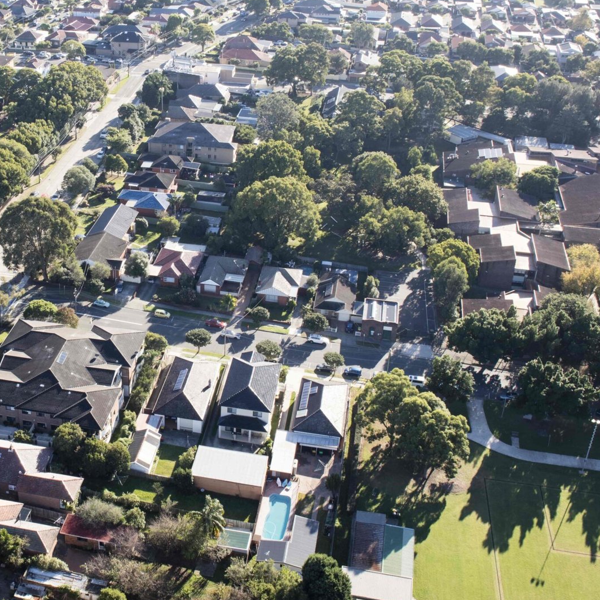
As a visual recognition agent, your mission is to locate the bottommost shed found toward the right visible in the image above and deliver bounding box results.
[348,564,413,600]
